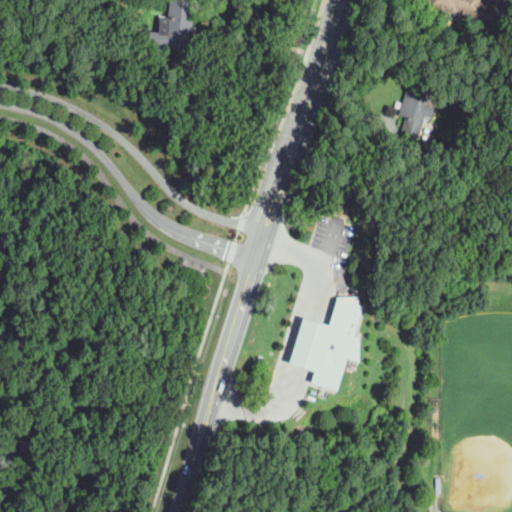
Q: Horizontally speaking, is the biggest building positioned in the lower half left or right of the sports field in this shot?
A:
left of it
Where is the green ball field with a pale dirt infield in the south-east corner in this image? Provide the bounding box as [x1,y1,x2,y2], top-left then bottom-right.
[442,312,512,512]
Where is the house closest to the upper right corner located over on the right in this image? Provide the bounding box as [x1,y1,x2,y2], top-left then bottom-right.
[400,93,434,134]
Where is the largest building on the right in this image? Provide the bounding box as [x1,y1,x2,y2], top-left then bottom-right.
[289,296,363,394]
